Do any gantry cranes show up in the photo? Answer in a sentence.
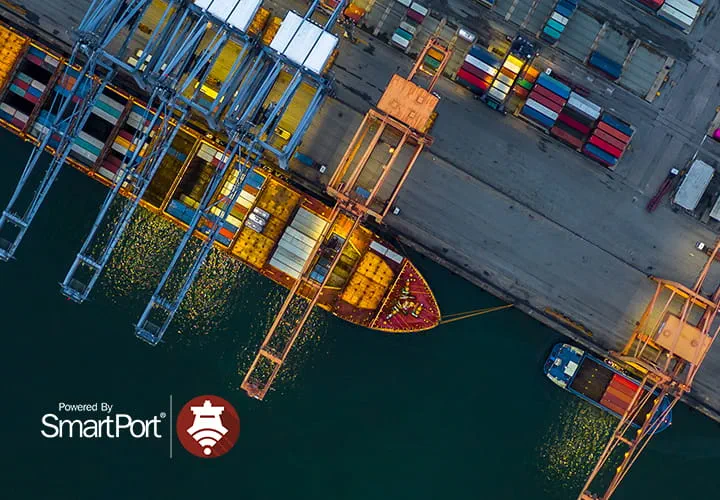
Yes, this view includes a gantry crane.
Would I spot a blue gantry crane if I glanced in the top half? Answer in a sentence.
Yes, a blue gantry crane is visible in the top half.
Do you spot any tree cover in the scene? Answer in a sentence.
No, there is no tree cover in the image.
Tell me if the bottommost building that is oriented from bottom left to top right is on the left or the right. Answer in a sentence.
The bottommost building that is oriented from bottom left to top right is on the right side of the image.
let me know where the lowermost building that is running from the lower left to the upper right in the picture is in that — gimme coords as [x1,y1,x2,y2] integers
[674,159,717,210]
